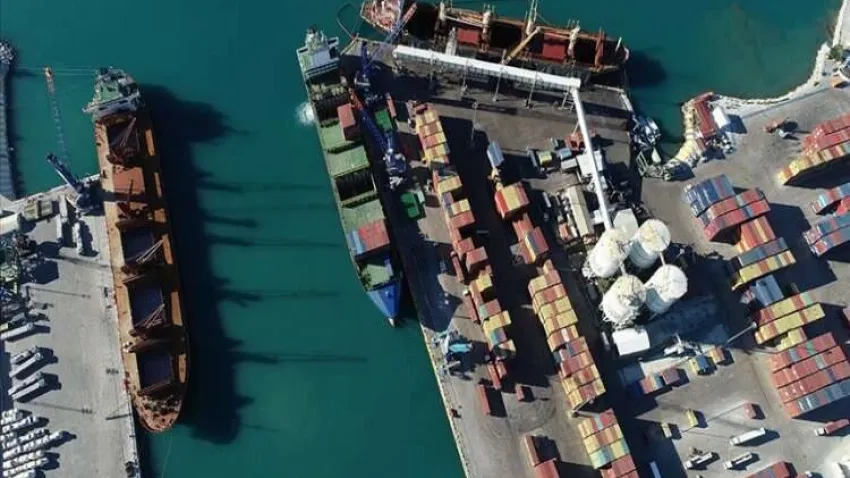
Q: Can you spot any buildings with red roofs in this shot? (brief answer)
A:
Yes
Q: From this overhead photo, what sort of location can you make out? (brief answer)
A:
port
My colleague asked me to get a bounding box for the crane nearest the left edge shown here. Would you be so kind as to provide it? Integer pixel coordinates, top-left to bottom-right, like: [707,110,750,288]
[45,69,102,222]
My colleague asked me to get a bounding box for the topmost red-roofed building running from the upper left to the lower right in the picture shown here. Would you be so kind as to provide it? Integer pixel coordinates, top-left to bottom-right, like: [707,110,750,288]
[681,102,717,141]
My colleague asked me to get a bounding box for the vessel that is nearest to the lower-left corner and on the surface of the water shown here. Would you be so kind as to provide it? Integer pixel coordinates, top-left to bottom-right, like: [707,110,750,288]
[85,68,193,434]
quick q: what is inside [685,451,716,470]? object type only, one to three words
vehicle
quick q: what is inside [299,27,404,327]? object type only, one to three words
ship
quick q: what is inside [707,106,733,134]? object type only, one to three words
shed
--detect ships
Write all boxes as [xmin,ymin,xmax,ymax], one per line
[85,68,193,434]
[353,0,633,79]
[299,27,404,327]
